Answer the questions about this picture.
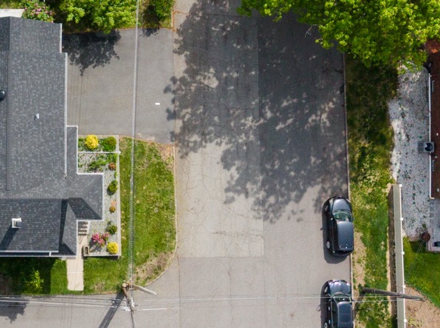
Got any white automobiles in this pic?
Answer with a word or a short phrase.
No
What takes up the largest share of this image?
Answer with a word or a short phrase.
paved ground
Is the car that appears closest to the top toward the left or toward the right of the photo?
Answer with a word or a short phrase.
right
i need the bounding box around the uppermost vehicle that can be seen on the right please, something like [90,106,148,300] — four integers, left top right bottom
[324,197,358,258]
